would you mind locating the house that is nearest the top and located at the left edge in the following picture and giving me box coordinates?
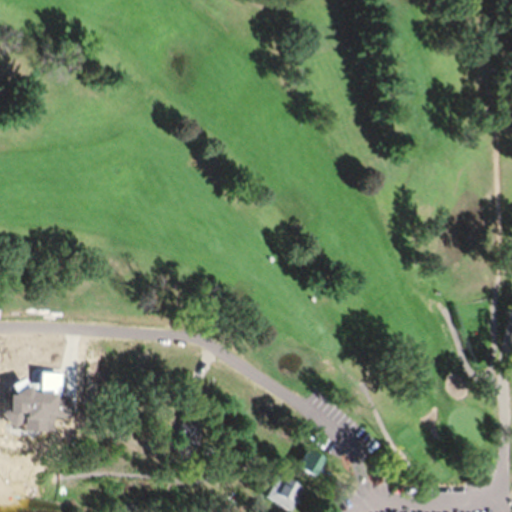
[4,372,70,432]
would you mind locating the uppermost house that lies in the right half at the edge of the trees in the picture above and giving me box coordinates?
[305,452,326,479]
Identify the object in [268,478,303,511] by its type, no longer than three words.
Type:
house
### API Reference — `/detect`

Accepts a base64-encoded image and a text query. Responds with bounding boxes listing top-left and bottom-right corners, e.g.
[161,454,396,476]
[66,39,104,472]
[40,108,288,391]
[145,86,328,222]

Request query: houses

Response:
[305,452,326,479]
[268,478,303,511]
[4,372,70,432]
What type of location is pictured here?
golf course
